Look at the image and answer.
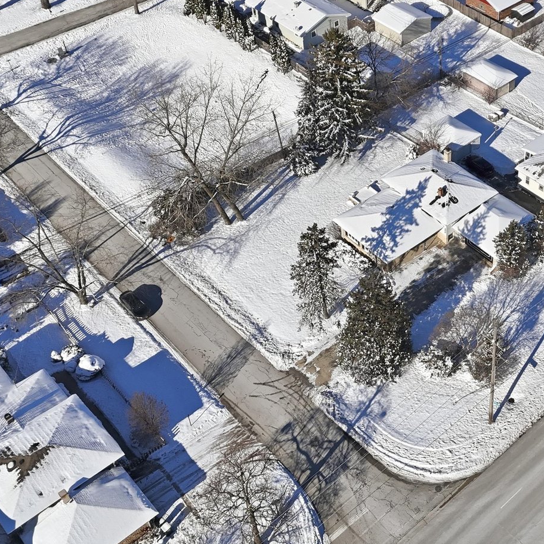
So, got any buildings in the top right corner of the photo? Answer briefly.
Yes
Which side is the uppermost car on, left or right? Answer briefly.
right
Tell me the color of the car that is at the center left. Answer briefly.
black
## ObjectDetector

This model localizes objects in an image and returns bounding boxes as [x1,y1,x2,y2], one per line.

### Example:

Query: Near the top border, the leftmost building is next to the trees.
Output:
[245,0,351,51]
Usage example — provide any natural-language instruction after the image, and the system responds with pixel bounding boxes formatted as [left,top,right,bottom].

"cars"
[118,291,151,321]
[462,153,496,180]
